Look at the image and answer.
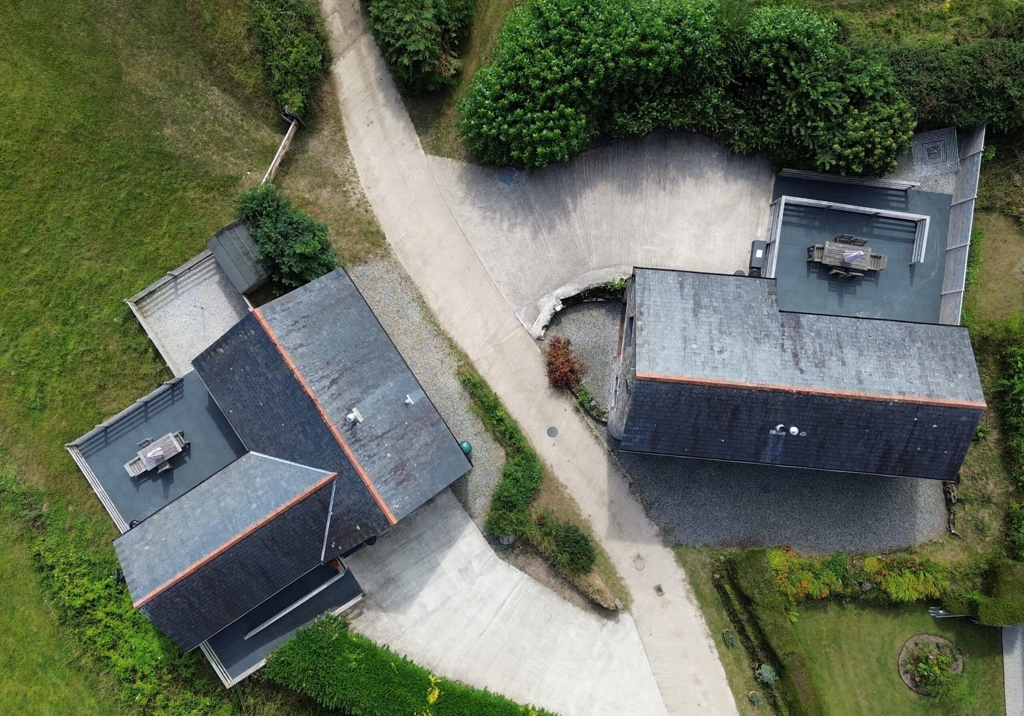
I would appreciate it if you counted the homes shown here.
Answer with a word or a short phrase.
two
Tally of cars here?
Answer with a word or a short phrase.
zero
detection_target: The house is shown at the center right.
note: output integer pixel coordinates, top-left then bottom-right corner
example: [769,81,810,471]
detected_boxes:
[608,265,988,483]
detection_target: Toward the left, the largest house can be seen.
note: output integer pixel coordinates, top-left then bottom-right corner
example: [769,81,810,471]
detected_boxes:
[113,267,473,653]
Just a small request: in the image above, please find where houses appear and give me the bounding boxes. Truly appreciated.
[113,267,473,653]
[608,265,988,483]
